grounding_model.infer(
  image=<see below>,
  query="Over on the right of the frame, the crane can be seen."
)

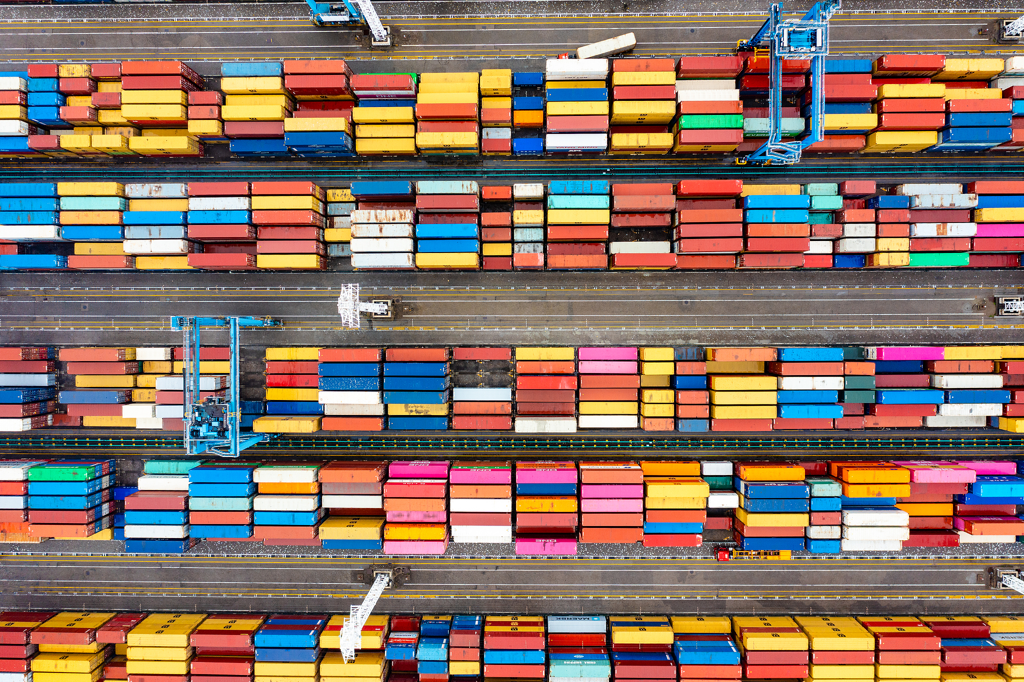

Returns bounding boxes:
[735,0,834,168]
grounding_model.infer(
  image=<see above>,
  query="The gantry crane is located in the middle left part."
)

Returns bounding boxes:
[169,319,281,461]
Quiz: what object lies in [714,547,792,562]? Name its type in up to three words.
vehicle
